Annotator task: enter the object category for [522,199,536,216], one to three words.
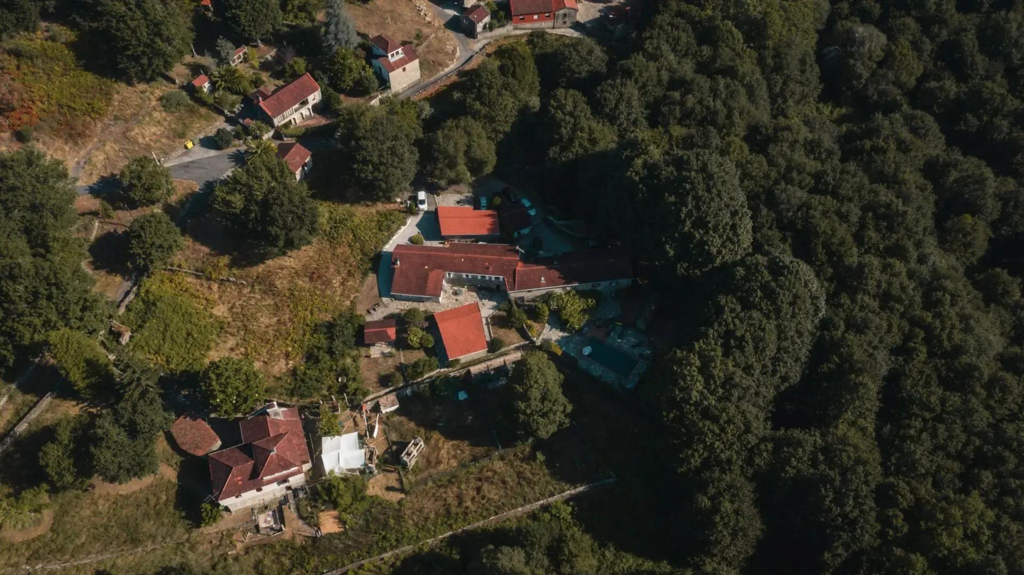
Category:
car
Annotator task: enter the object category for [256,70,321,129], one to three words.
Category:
house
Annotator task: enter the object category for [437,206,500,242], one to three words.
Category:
barn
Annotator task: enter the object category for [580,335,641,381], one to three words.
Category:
swimming pool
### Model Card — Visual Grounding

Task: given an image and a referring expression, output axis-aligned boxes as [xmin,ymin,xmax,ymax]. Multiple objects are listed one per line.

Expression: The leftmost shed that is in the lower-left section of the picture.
[171,414,223,460]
